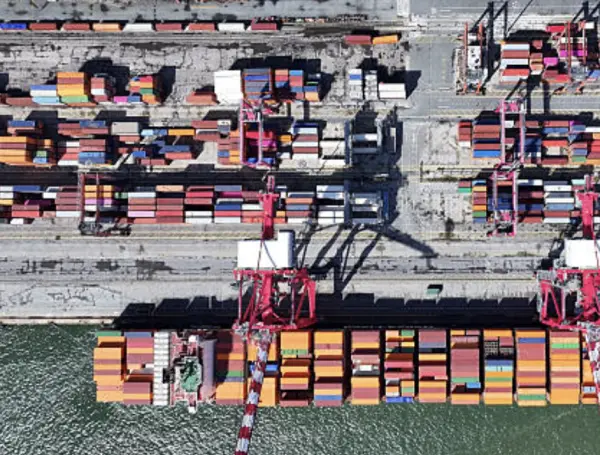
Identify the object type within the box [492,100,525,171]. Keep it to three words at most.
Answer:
crane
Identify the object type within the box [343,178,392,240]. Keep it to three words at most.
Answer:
crane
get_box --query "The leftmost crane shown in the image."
[77,172,129,238]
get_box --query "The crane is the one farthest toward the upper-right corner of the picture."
[556,18,588,87]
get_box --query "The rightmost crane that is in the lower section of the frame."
[534,173,600,437]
